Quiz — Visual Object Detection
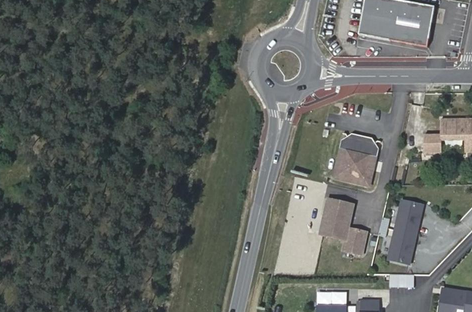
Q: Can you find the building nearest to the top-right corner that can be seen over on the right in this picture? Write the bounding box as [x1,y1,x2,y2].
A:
[358,0,435,49]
